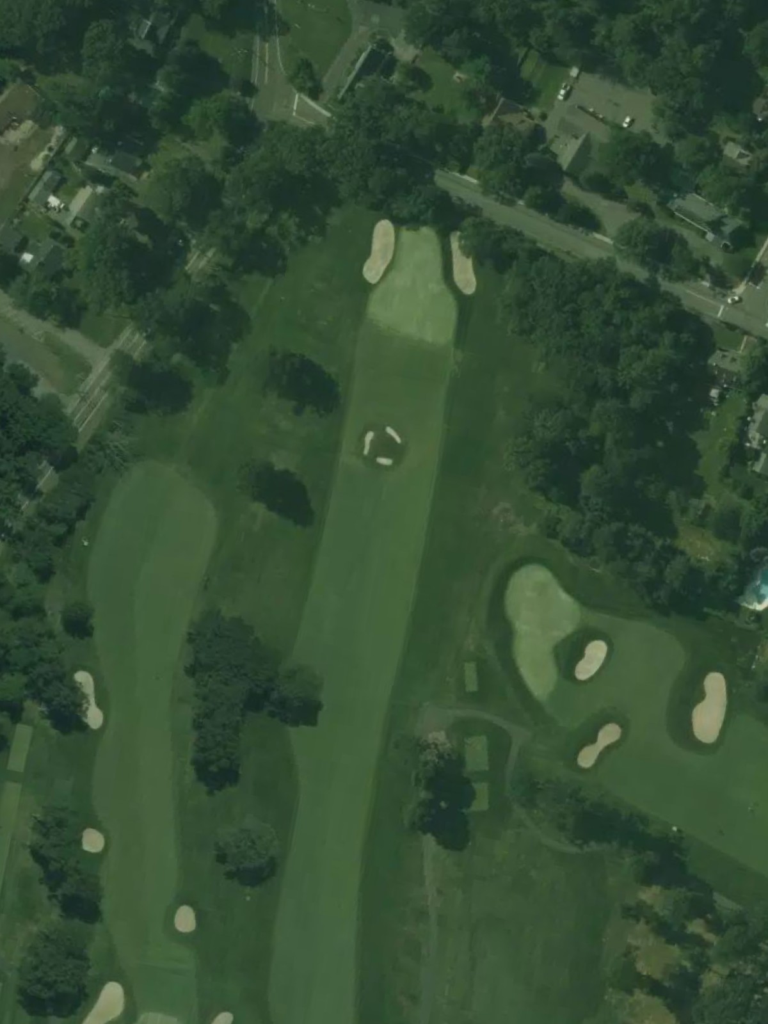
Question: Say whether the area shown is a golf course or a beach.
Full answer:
The picture captures a golf course.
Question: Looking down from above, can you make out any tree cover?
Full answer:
Yes, the picture does contain tree cover.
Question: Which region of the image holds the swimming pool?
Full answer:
The swimming pool appears toward the right of the photo.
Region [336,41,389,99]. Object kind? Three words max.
house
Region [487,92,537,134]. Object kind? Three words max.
house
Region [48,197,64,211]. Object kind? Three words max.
camper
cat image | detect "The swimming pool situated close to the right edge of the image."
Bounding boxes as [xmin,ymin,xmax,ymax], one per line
[740,562,768,611]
